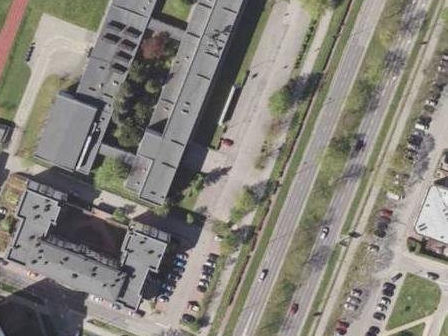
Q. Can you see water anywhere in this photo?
No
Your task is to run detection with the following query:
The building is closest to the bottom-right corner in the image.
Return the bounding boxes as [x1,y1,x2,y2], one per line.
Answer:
[411,181,448,247]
